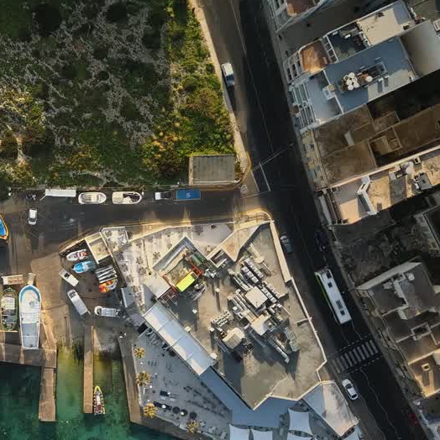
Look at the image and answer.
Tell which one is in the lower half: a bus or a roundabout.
bus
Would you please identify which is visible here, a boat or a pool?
boat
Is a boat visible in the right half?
No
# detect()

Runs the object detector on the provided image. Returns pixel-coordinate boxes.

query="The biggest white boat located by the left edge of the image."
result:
[19,286,41,348]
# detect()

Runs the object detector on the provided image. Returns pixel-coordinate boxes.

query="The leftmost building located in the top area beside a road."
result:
[188,154,236,184]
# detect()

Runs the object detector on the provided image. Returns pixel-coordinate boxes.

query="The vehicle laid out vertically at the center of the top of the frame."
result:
[221,62,234,87]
